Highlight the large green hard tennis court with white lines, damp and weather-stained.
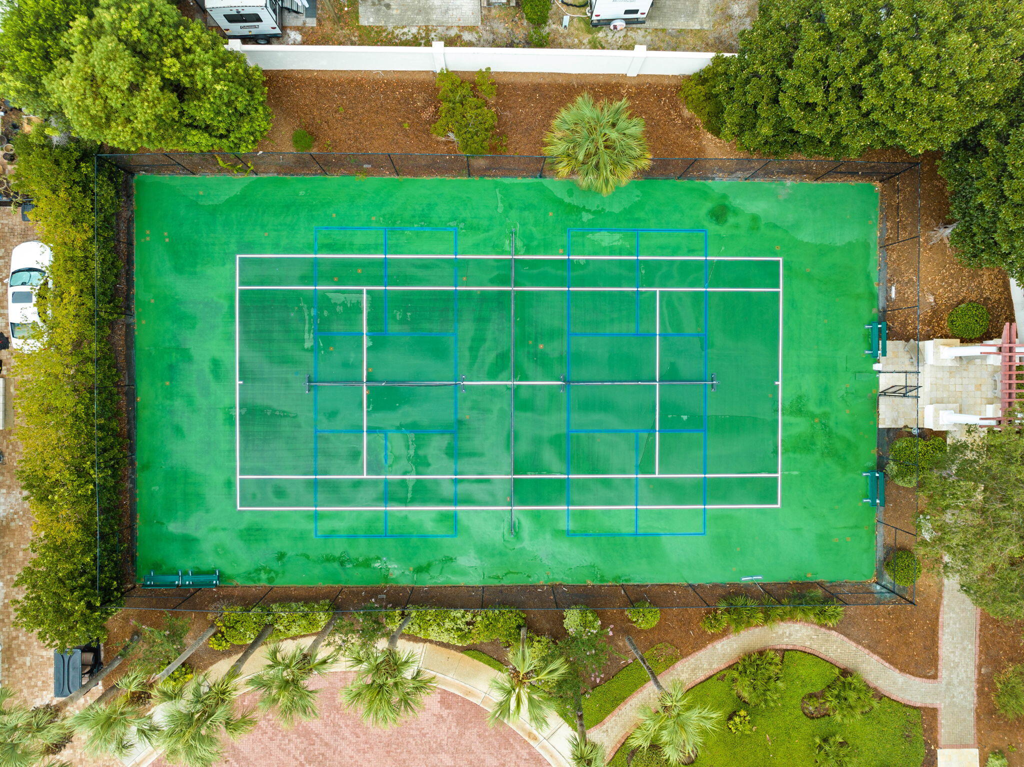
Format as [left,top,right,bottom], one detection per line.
[134,176,879,586]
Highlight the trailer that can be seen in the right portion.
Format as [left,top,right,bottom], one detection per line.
[584,0,654,37]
